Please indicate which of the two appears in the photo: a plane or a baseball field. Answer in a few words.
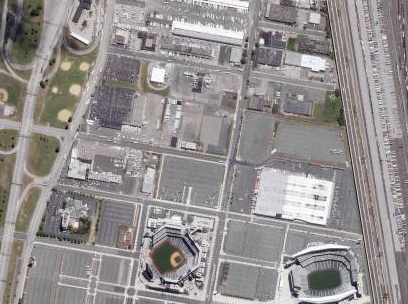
baseball field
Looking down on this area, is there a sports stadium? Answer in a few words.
Yes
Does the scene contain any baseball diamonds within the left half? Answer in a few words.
Yes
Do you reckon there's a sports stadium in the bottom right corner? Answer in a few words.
Yes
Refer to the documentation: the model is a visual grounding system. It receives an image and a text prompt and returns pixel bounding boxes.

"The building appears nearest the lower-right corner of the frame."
[253,168,335,225]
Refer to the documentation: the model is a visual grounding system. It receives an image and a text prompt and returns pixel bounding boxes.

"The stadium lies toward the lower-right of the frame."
[283,243,361,304]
